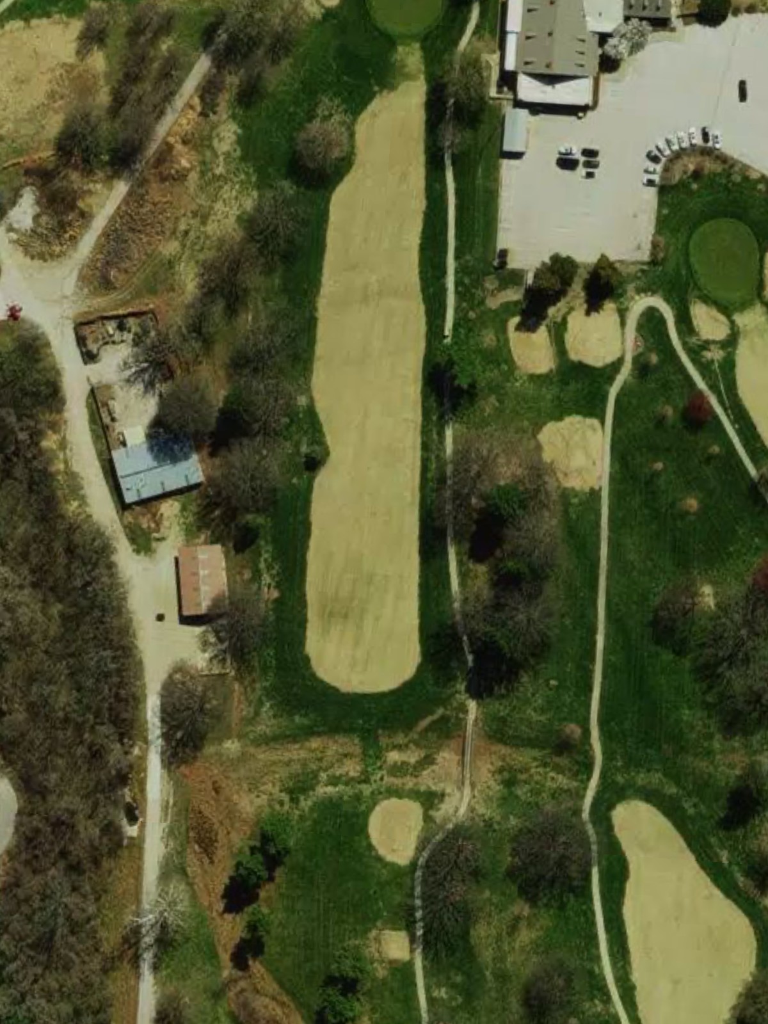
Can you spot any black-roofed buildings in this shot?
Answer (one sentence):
No, there's no black-roofed building here.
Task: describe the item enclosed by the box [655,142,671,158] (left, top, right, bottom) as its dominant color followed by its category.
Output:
white car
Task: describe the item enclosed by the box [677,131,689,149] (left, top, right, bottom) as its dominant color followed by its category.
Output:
white vehicle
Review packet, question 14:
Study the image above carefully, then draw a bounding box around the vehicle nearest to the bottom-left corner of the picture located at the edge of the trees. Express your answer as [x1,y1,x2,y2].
[126,803,138,824]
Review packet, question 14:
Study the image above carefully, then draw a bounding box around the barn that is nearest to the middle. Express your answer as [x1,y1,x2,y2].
[179,545,227,615]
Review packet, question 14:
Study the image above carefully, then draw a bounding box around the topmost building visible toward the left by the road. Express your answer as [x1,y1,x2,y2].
[112,423,204,503]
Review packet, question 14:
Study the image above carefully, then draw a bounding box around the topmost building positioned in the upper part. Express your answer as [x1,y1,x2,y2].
[504,0,671,106]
